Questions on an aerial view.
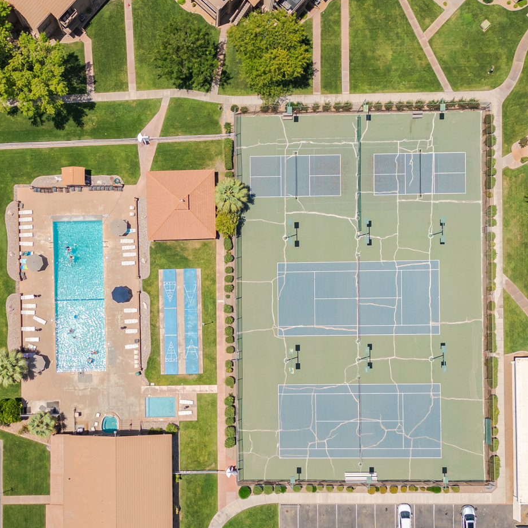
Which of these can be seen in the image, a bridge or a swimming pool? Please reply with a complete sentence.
It is a swimming pool that can be seen here.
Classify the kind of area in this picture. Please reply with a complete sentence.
This looks like a sports ground.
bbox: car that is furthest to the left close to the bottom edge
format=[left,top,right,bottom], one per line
[398,504,414,528]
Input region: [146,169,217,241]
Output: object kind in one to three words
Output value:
building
